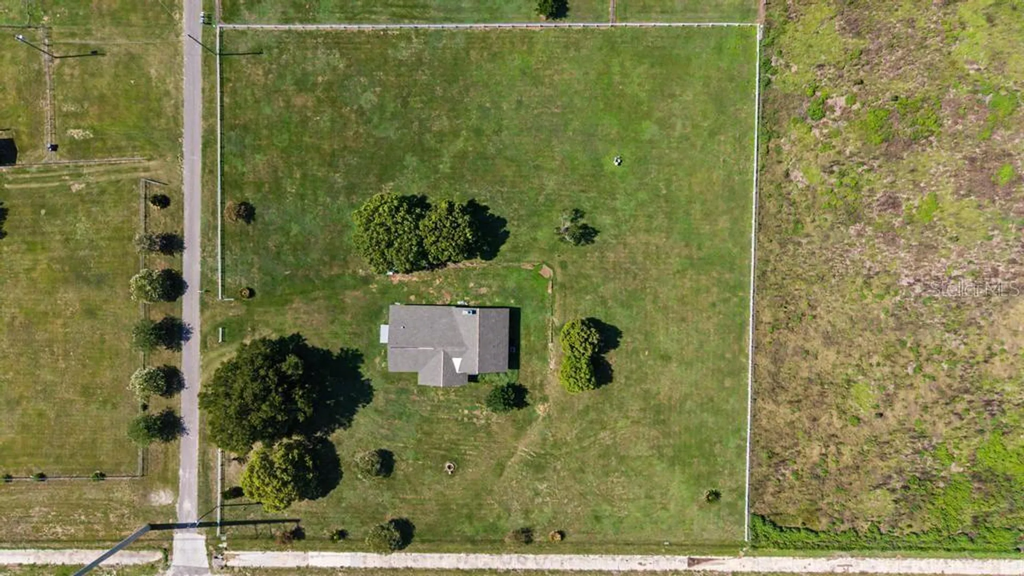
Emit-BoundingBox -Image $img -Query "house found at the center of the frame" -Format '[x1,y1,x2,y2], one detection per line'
[380,304,509,387]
